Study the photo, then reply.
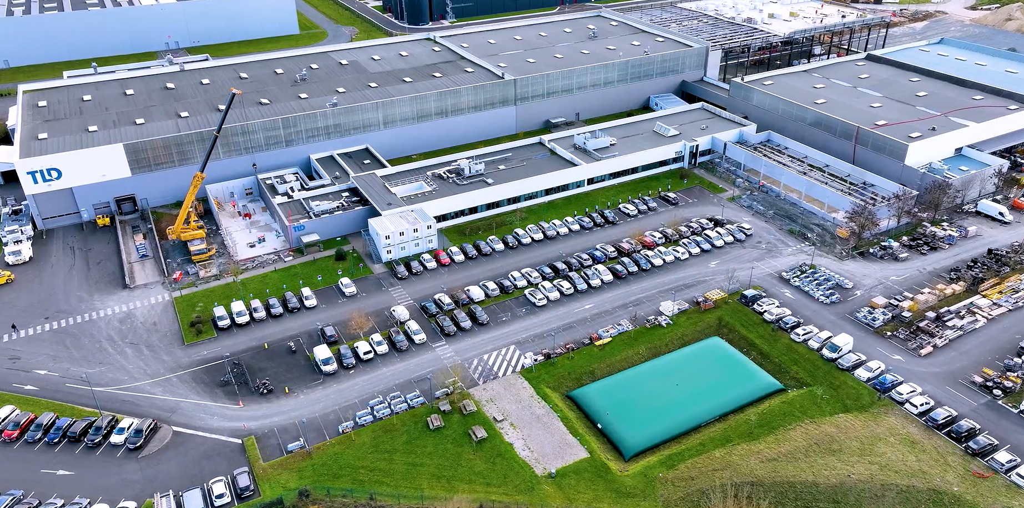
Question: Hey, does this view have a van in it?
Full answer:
Yes, there's a van down there.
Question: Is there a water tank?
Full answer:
Yes, a water tank can be made out from above.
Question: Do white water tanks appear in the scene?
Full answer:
No, no white water tank is visible in the scene.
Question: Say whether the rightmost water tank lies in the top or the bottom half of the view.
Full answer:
It is in the bottom half that the rightmost water tank appears.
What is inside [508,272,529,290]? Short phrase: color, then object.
white car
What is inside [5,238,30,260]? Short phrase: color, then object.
white work vehicle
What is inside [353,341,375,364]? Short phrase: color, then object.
white vehicle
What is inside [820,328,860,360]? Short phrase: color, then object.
white van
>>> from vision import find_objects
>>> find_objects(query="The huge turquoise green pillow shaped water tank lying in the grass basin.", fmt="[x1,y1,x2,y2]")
[567,338,787,463]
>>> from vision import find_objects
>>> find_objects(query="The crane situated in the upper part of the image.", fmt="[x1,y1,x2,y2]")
[167,88,256,262]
